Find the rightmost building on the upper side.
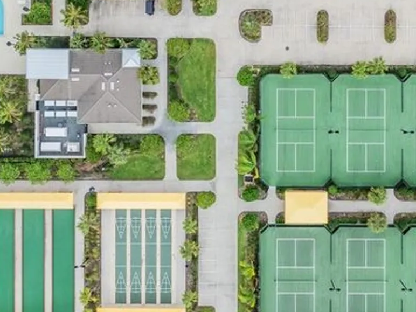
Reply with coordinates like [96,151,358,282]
[26,47,142,158]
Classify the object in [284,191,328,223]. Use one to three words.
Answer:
building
